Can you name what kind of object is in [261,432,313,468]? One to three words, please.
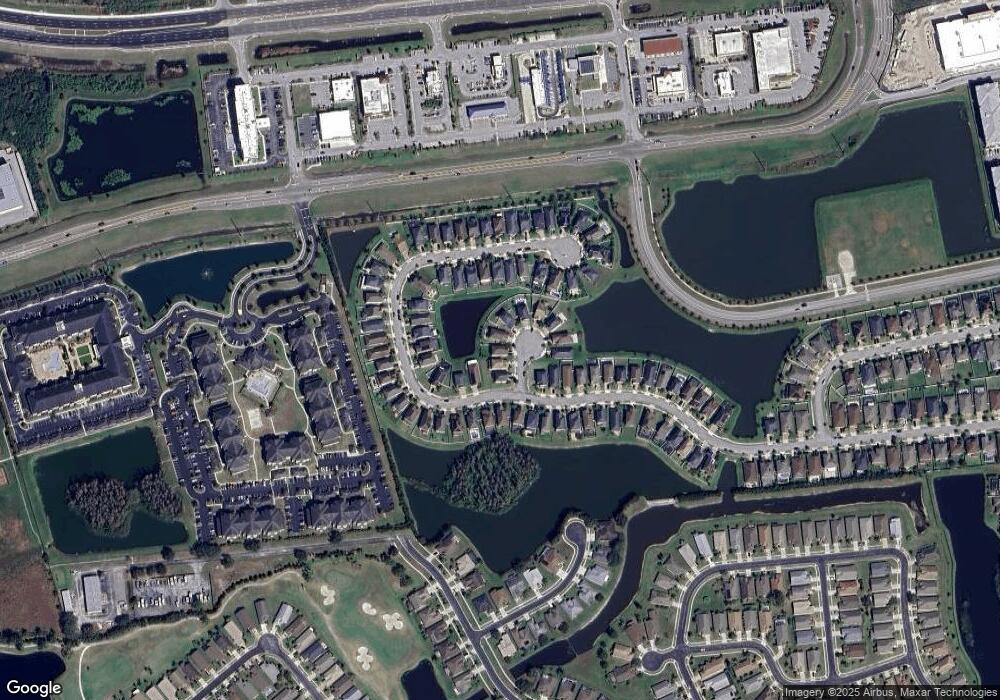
building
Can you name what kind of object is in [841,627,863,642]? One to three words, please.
house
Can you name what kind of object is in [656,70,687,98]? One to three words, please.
building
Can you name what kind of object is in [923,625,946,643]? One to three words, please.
house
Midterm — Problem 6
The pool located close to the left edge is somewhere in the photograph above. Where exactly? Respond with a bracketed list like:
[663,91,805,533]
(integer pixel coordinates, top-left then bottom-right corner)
[42,351,62,374]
